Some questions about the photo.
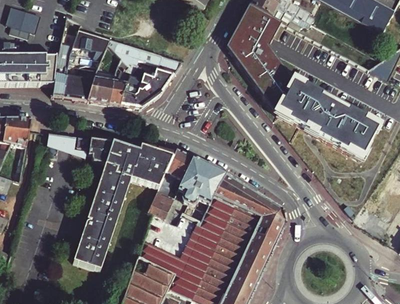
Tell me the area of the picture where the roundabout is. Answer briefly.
bottom right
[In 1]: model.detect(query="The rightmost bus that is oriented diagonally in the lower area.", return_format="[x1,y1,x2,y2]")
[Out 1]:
[358,283,384,304]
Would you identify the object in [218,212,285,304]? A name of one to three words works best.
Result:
building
